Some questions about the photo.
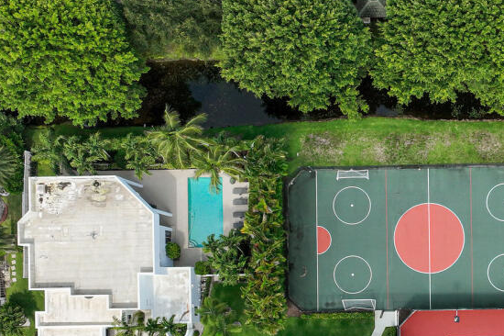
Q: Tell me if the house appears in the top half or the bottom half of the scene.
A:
bottom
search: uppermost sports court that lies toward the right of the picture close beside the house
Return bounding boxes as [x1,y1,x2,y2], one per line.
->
[288,165,504,313]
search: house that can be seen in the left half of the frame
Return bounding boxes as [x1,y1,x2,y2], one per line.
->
[18,175,202,336]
